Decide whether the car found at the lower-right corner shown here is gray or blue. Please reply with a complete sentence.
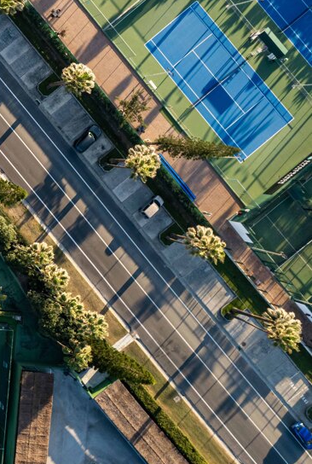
The car found at the lower-right corner is blue.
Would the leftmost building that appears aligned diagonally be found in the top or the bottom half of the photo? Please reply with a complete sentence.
The leftmost building that appears aligned diagonally is in the bottom half of the image.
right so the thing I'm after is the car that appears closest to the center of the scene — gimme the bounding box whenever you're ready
[140,195,165,217]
